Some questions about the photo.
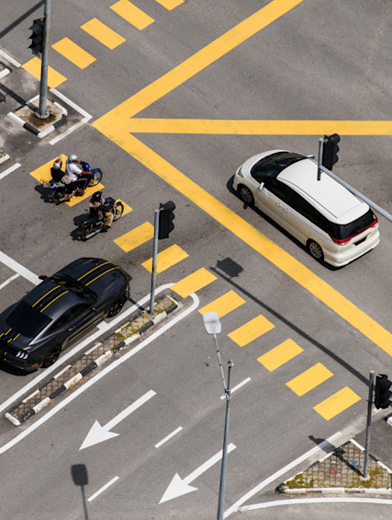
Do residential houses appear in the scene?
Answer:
No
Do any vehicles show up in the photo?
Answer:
Yes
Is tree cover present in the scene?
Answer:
No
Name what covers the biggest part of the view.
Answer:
paved ground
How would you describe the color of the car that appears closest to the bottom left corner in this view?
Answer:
black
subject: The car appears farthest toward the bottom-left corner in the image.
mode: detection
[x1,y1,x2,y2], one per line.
[0,256,132,375]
